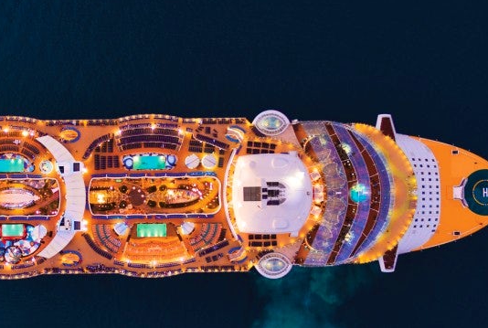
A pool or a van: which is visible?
pool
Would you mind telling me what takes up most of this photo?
water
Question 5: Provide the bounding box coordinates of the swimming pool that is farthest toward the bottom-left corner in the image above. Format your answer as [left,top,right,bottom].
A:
[2,224,24,238]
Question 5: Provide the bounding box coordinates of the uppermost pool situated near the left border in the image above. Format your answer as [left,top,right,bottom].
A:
[0,153,36,175]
